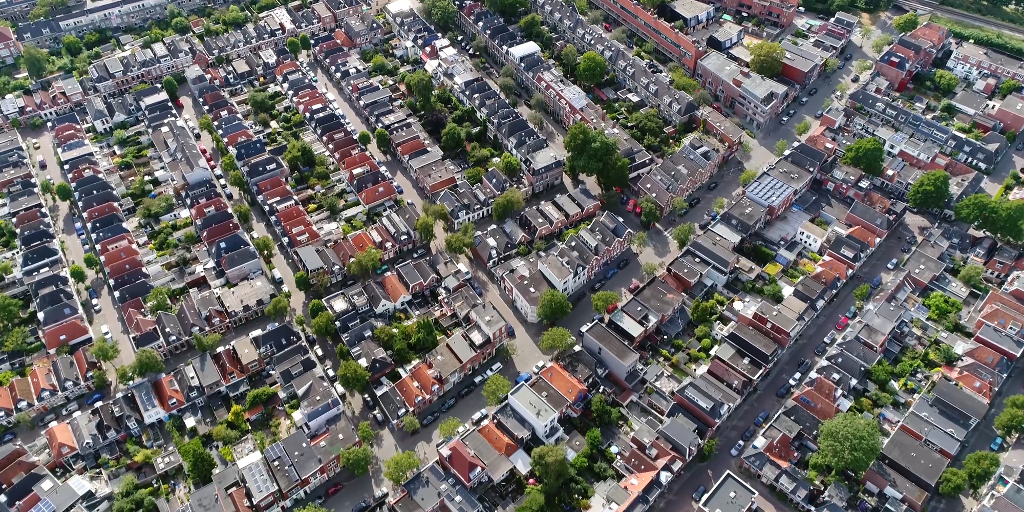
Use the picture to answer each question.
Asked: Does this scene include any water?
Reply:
No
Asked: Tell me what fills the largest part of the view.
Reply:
buildings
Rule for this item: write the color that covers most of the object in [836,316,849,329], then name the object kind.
red vehicle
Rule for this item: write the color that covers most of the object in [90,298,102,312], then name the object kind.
white vehicle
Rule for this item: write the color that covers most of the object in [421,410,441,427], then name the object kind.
black car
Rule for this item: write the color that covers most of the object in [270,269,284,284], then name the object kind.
white vehicle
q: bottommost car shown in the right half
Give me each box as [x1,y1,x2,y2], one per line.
[691,484,707,502]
